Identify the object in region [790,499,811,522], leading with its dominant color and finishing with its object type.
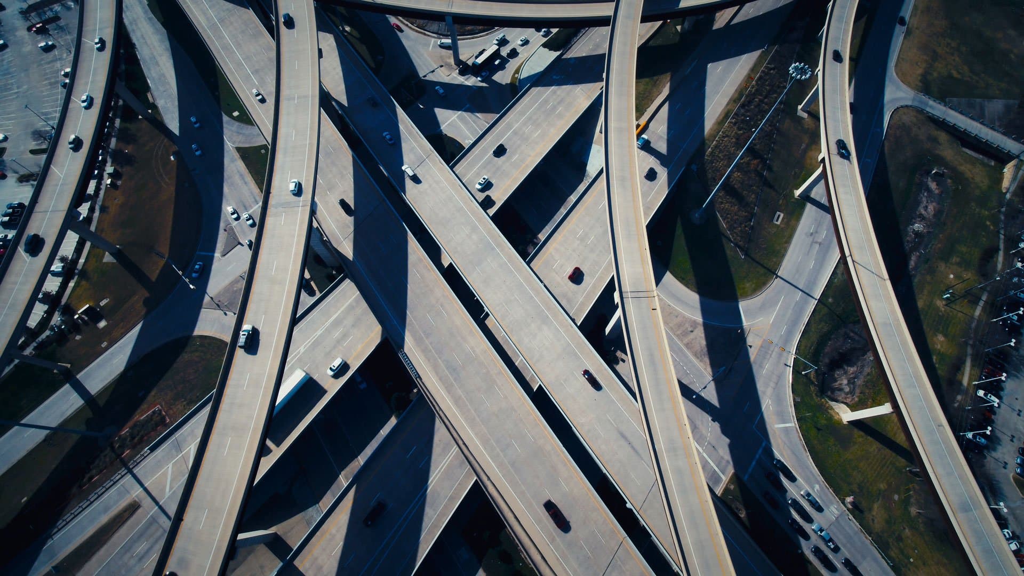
black car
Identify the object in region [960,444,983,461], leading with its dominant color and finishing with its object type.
black car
